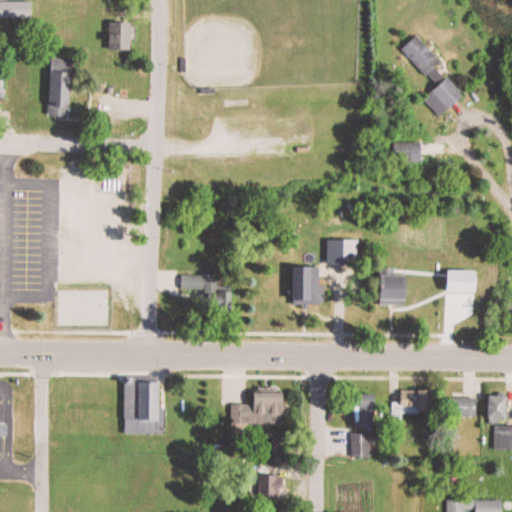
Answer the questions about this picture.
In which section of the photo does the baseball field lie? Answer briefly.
top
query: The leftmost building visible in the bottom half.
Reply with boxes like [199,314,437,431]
[124,376,164,434]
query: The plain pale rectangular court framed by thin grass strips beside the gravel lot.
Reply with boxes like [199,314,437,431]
[56,283,112,329]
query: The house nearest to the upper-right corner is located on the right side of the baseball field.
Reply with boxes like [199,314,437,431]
[402,38,464,110]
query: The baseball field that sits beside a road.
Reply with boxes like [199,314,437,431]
[184,0,356,88]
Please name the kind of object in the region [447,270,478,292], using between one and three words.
building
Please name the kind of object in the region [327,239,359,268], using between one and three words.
building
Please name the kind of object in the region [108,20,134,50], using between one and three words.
house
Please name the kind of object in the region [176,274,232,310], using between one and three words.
house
